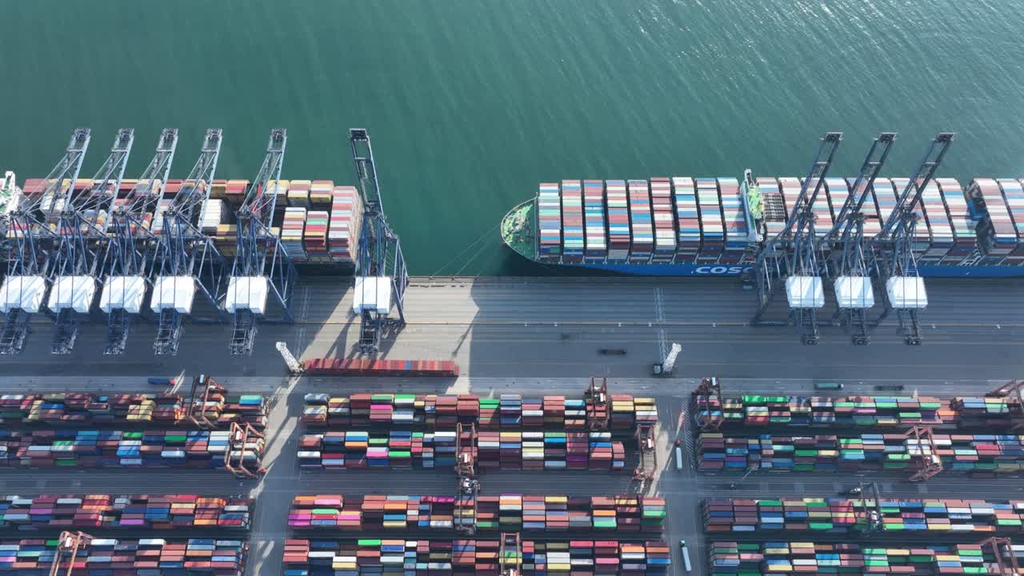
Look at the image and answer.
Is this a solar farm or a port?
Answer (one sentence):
This looks like a port.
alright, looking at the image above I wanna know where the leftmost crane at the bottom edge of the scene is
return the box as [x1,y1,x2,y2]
[54,532,104,576]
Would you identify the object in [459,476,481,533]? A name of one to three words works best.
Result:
container crane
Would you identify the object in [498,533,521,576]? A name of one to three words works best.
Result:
container crane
